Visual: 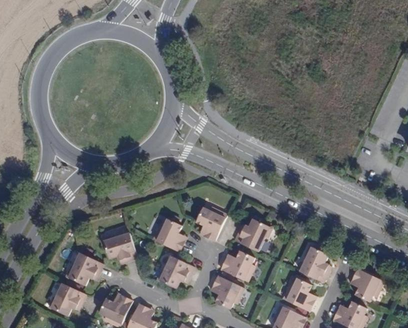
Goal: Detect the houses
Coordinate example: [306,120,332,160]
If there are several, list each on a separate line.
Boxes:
[300,248,332,282]
[352,269,384,303]
[197,207,229,239]
[211,276,244,308]
[160,256,192,287]
[128,303,160,328]
[286,278,317,310]
[52,283,86,313]
[222,251,258,281]
[70,252,104,284]
[239,220,270,250]
[333,301,369,328]
[157,219,188,248]
[274,306,308,328]
[104,232,136,261]
[99,291,130,324]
